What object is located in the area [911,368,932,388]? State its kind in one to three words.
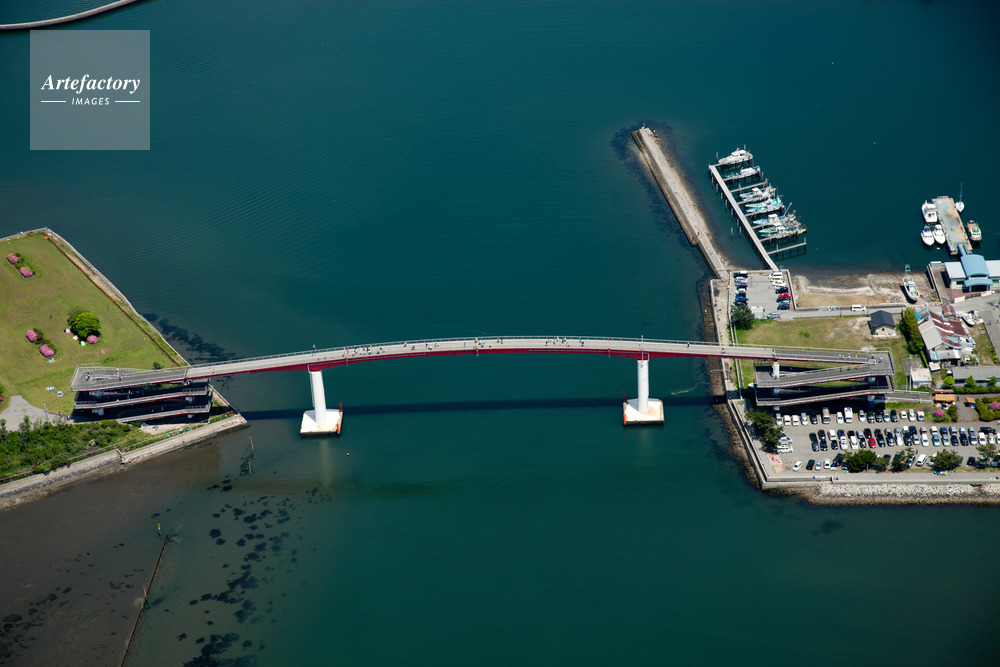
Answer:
shed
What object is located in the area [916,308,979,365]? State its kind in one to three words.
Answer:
building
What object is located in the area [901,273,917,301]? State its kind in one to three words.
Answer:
boat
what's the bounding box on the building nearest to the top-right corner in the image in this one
[944,253,1000,292]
